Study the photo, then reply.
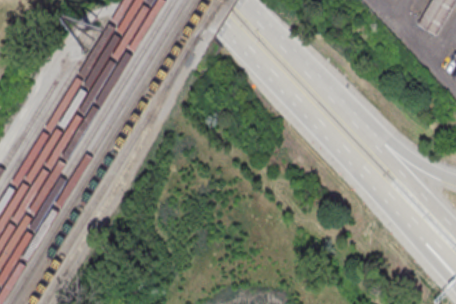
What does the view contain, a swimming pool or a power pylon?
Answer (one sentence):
It is a power pylon that can be seen here.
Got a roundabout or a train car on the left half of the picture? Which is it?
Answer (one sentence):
You can see a train car on the left half of the picture.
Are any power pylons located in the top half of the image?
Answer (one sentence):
Yes, looking in the top half of the image, one can make out a power pylon.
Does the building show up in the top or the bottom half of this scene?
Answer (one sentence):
The top half of the photo is where the building is.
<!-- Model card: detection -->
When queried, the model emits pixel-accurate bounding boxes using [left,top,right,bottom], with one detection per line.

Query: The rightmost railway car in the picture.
[182,0,214,42]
